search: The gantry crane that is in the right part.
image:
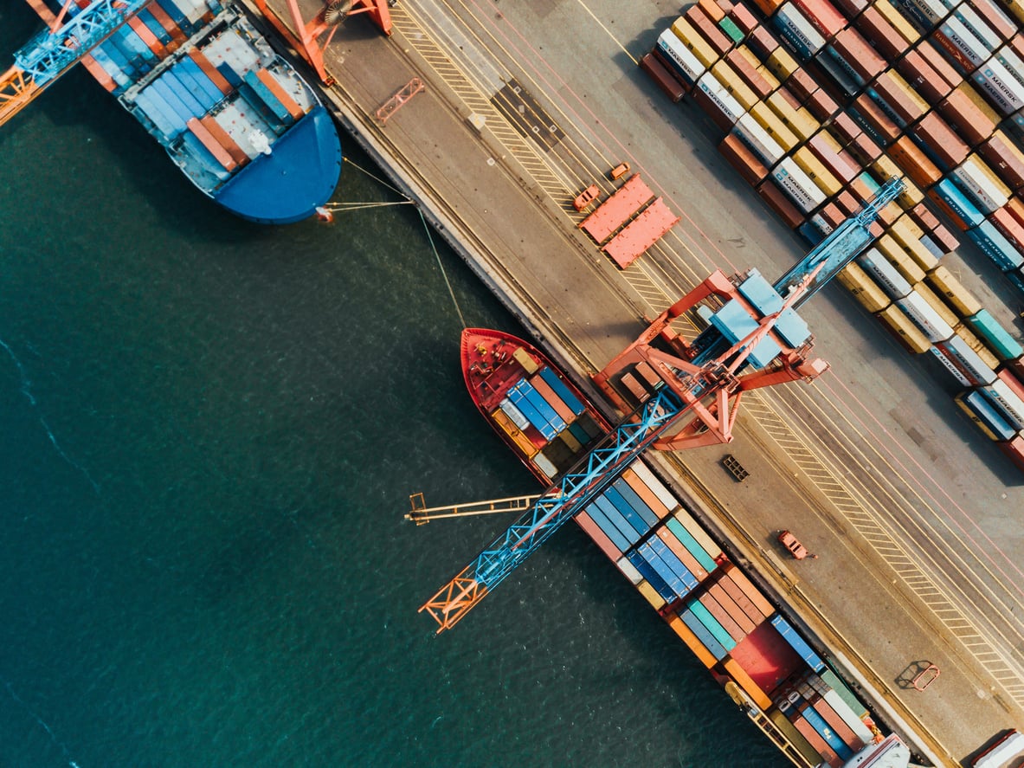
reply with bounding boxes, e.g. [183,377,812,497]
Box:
[419,170,913,636]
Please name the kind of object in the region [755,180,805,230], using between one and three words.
shipping container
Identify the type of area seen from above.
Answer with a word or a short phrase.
port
